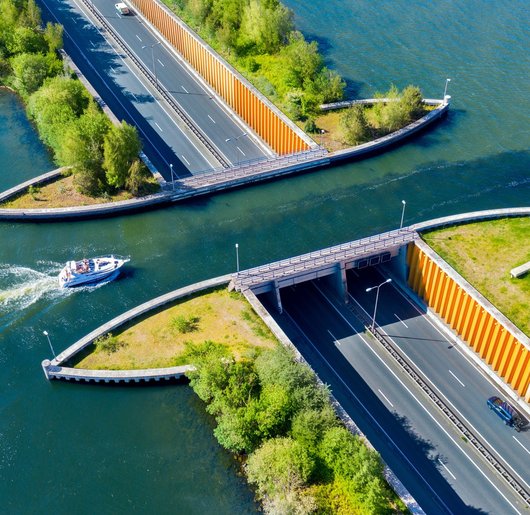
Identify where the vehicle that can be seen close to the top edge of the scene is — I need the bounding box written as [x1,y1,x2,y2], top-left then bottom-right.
[117,1,131,13]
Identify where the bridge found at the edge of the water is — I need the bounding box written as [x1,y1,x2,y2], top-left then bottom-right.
[159,143,427,314]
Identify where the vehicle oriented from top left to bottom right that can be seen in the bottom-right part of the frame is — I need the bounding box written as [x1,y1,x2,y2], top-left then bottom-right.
[487,396,526,432]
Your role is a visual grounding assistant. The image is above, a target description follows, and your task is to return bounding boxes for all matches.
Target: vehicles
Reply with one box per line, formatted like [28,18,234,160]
[487,396,526,432]
[117,1,131,13]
